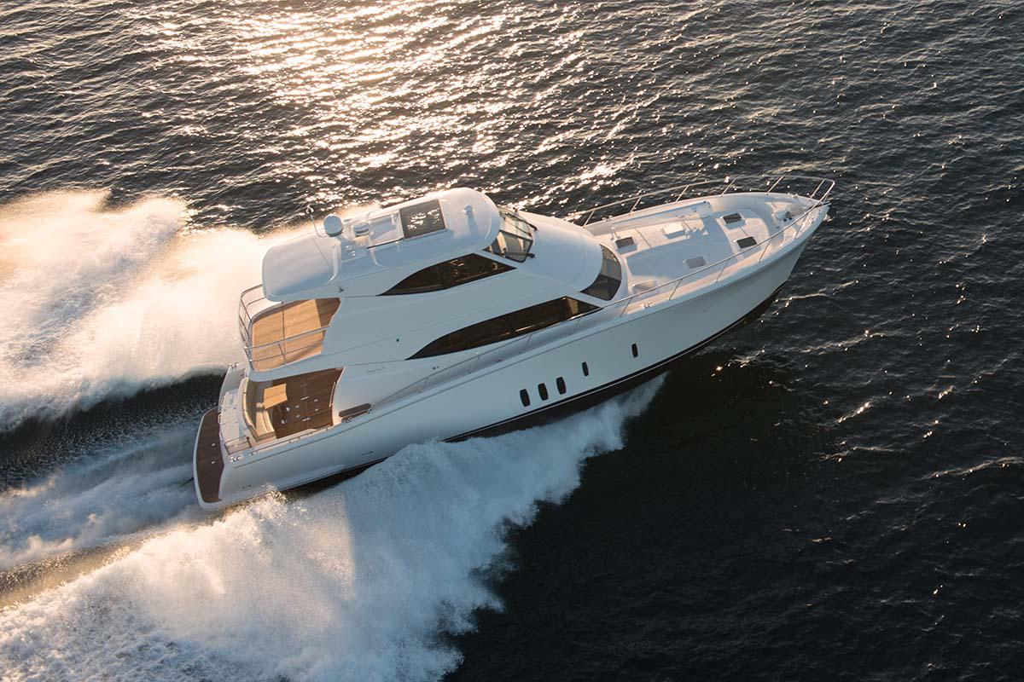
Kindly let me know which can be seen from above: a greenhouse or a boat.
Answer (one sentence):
Looking from above, you can make out a boat.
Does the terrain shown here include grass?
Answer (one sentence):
No, there is no grass in the image.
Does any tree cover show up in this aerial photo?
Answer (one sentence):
No, the picture contains no tree cover.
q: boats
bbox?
[183,173,840,515]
